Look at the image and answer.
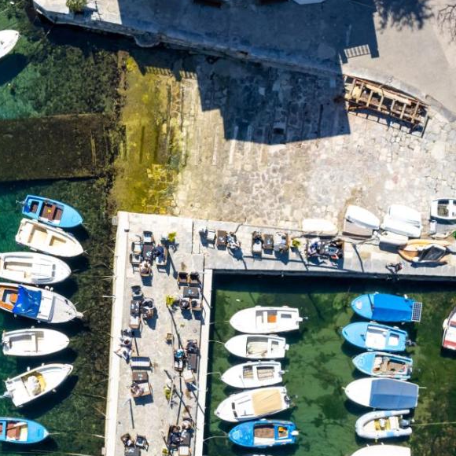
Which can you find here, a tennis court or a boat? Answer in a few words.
boat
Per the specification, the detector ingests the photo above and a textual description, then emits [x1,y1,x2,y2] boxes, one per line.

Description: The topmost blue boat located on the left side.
[16,196,112,227]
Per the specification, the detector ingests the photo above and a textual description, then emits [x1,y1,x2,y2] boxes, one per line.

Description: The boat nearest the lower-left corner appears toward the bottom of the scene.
[0,418,59,445]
